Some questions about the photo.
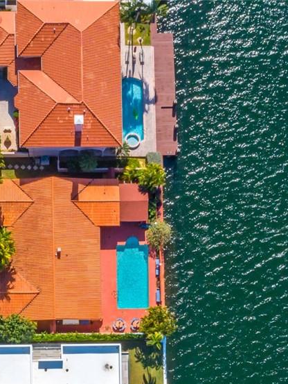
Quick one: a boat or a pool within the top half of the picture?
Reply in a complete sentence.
Visible within the top half of the picture is a pool.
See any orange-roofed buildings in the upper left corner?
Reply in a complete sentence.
Yes, an orange-roofed building appears in the upper left corner.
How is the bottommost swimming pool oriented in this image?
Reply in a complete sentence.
In this picture, the bottommost swimming pool lies vertically.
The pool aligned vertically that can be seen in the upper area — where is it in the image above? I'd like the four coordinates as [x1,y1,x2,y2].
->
[121,75,146,149]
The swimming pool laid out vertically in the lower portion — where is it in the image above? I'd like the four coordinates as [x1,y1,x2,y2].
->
[115,234,150,310]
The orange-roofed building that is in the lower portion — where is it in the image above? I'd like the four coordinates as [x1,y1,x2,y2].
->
[0,176,148,325]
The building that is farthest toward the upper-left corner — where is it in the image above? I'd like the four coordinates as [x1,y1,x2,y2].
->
[0,0,123,164]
